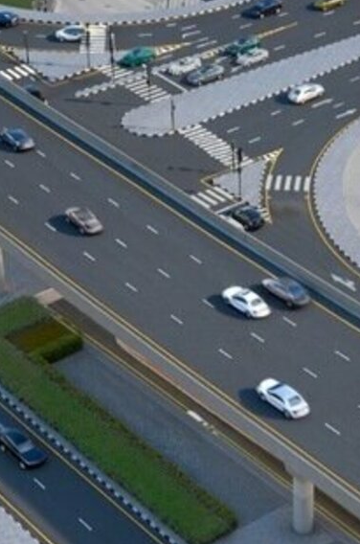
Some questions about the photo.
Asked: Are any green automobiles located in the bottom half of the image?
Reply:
No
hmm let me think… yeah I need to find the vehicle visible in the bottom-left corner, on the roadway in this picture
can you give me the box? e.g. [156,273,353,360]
[0,430,45,468]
